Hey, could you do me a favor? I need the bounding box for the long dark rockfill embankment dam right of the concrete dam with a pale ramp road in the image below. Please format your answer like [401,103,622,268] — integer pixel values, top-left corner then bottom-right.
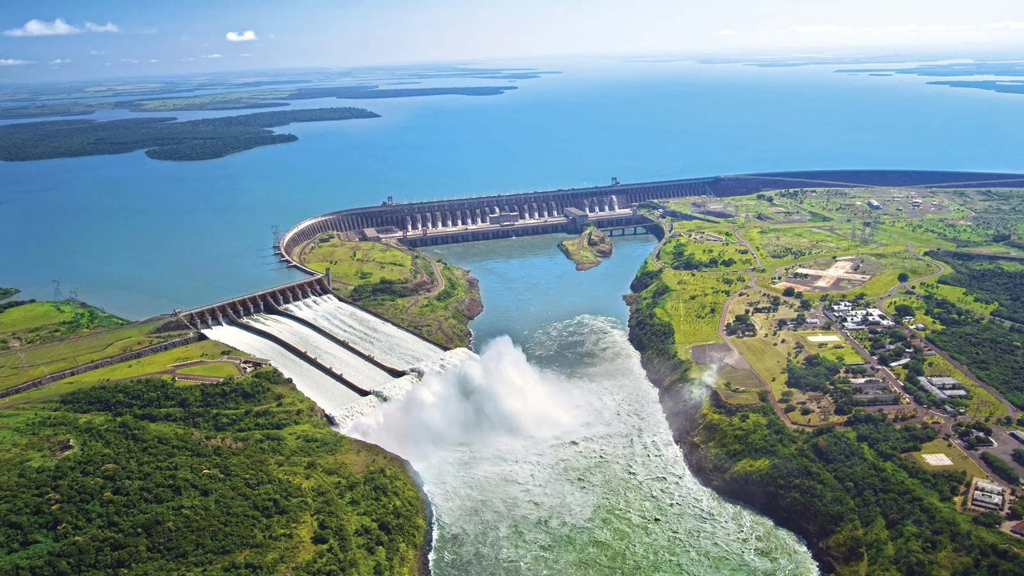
[717,169,1024,195]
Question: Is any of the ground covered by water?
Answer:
Yes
